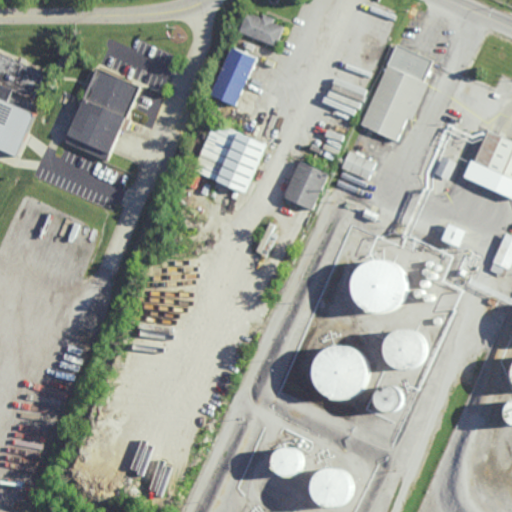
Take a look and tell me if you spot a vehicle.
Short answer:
Yes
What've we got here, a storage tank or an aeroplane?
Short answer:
storage tank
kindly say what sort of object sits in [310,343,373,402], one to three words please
storage tank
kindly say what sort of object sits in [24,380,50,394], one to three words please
vehicle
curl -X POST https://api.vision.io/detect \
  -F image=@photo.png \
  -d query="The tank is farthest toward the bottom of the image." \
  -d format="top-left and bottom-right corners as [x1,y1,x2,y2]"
[308,466,357,512]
